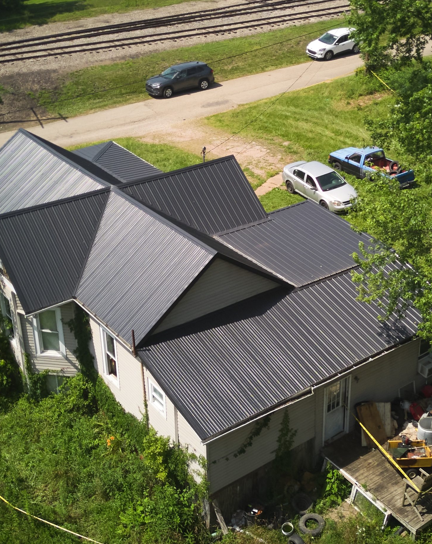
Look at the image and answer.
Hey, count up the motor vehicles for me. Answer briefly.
four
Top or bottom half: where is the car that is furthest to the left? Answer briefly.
top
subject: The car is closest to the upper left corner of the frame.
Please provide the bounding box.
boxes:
[142,55,215,96]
